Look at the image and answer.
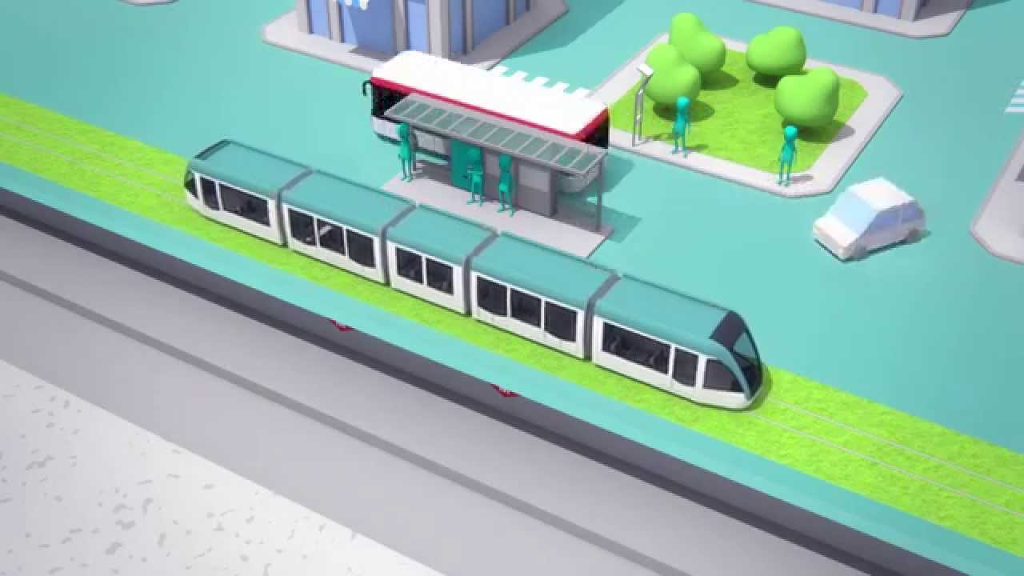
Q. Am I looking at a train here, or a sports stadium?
train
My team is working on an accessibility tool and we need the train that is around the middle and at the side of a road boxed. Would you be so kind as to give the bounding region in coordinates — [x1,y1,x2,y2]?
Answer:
[185,143,765,409]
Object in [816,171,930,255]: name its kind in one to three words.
car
